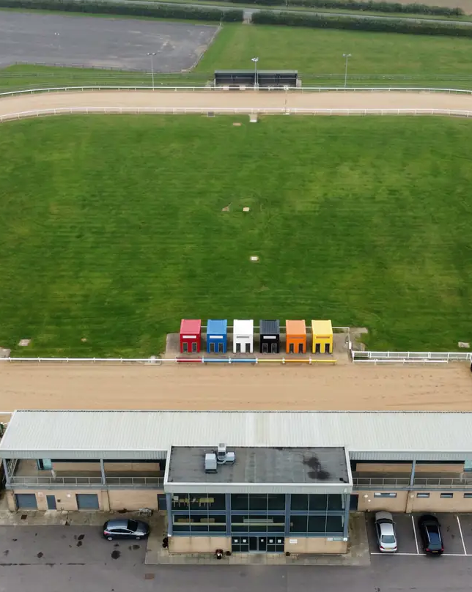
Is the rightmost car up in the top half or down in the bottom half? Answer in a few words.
bottom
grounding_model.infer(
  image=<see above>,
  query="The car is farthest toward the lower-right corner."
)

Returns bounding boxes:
[420,514,445,551]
